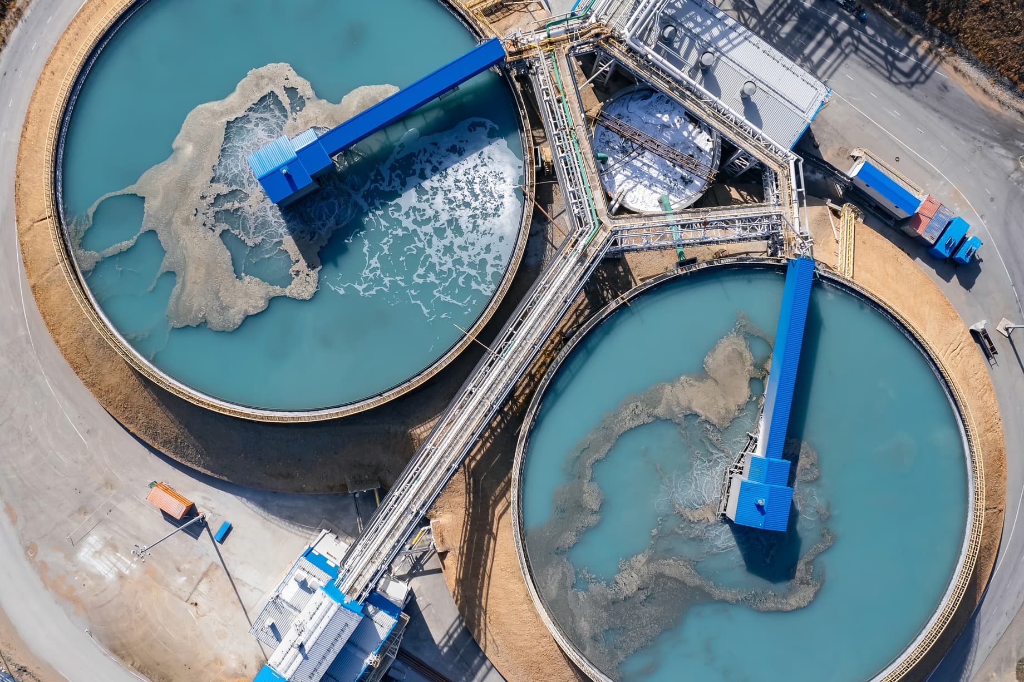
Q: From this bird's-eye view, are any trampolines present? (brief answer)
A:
No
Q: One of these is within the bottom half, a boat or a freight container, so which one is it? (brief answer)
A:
freight container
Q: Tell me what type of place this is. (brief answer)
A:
industrial area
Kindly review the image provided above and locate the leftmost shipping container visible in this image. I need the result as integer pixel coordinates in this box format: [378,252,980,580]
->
[146,483,194,520]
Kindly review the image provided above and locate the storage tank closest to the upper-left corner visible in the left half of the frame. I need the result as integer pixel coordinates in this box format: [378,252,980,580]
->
[43,0,536,424]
